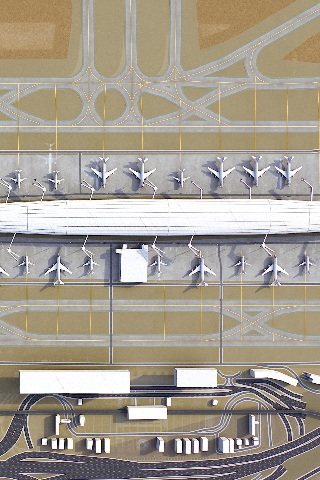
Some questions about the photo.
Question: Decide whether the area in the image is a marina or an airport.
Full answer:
The area seen from above is an airport.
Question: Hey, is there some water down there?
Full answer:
No, the scene doesn't show any water.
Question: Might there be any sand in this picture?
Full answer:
Yes, there is sand in the image.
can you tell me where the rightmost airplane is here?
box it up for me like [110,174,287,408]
[300,255,317,273]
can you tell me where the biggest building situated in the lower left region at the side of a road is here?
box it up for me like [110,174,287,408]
[19,368,130,394]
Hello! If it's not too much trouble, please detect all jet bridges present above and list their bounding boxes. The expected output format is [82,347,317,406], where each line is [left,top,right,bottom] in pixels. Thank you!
[80,179,95,199]
[81,235,95,258]
[32,179,47,202]
[188,181,203,199]
[7,233,20,261]
[149,236,165,257]
[143,178,158,199]
[0,177,12,203]
[236,179,252,199]
[257,234,274,256]
[186,235,202,256]
[296,178,313,202]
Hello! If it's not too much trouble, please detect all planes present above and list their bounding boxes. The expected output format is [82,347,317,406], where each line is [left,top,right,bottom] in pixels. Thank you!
[48,170,65,189]
[18,254,35,273]
[244,155,271,187]
[10,169,27,188]
[300,255,317,273]
[150,255,168,274]
[130,157,157,188]
[0,265,9,276]
[173,169,191,187]
[190,255,218,287]
[276,155,304,187]
[210,156,237,187]
[263,255,291,287]
[46,254,73,285]
[83,255,100,274]
[91,156,118,187]
[235,255,252,274]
